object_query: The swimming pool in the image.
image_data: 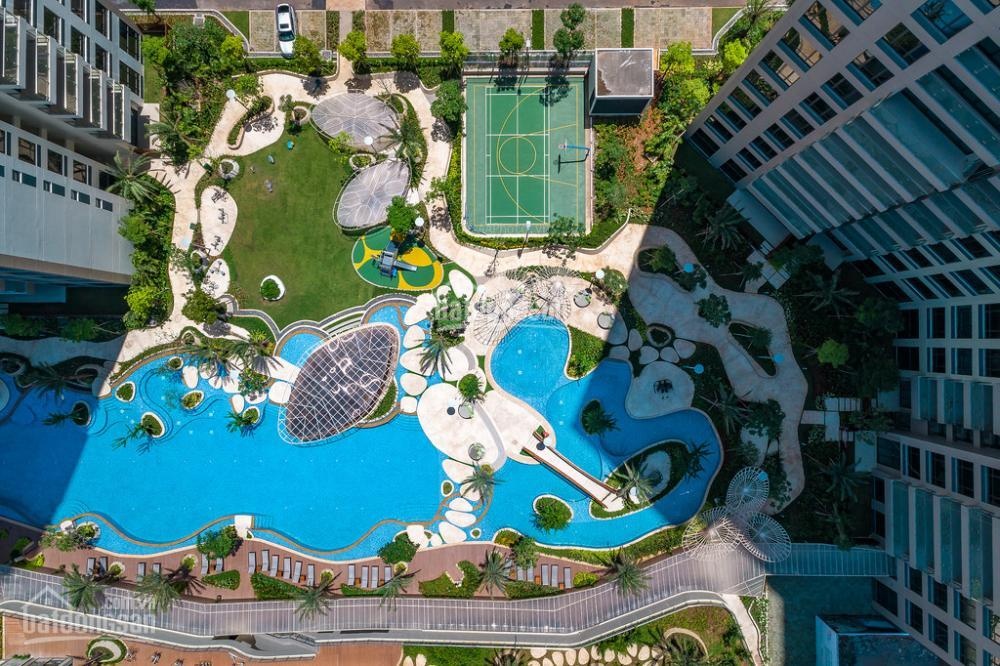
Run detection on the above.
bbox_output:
[0,297,724,563]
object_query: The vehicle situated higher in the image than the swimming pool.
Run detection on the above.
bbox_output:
[275,5,301,59]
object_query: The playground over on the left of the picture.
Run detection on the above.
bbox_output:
[351,225,445,291]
